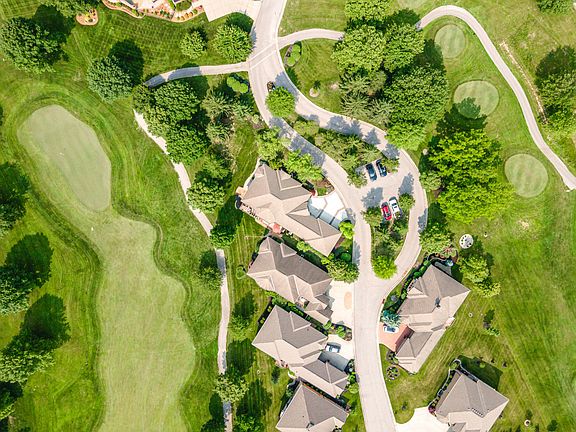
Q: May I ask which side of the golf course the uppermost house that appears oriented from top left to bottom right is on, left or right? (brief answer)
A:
on its right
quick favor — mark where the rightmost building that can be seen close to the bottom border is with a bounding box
[437,371,509,432]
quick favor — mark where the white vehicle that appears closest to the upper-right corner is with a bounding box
[389,198,401,217]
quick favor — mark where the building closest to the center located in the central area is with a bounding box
[241,164,341,256]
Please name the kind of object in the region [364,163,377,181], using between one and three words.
vehicle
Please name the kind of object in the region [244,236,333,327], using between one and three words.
house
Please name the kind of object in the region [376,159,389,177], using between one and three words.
vehicle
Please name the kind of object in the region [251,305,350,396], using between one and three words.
house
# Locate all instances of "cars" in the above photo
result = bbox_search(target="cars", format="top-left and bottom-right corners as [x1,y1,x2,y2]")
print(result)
[325,343,341,353]
[381,203,392,220]
[376,159,389,177]
[389,198,401,217]
[364,163,377,181]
